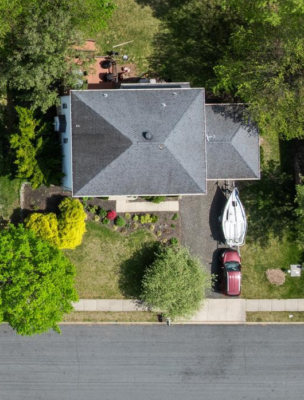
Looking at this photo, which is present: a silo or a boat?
boat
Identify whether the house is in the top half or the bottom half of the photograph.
top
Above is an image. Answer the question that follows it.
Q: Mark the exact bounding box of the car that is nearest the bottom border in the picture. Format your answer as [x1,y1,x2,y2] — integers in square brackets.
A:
[219,248,245,296]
